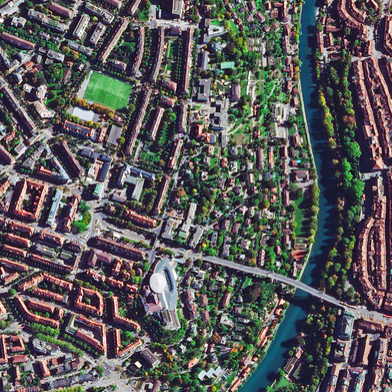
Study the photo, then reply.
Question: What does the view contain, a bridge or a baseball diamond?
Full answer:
Looking from above, you can make out a bridge.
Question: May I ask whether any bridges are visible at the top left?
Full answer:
No, at the top left there is no bridge.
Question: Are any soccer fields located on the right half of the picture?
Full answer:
No, no soccer field is visible on the right half of the picture.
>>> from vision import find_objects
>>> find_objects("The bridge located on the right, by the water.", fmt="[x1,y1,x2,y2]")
[194,251,371,317]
